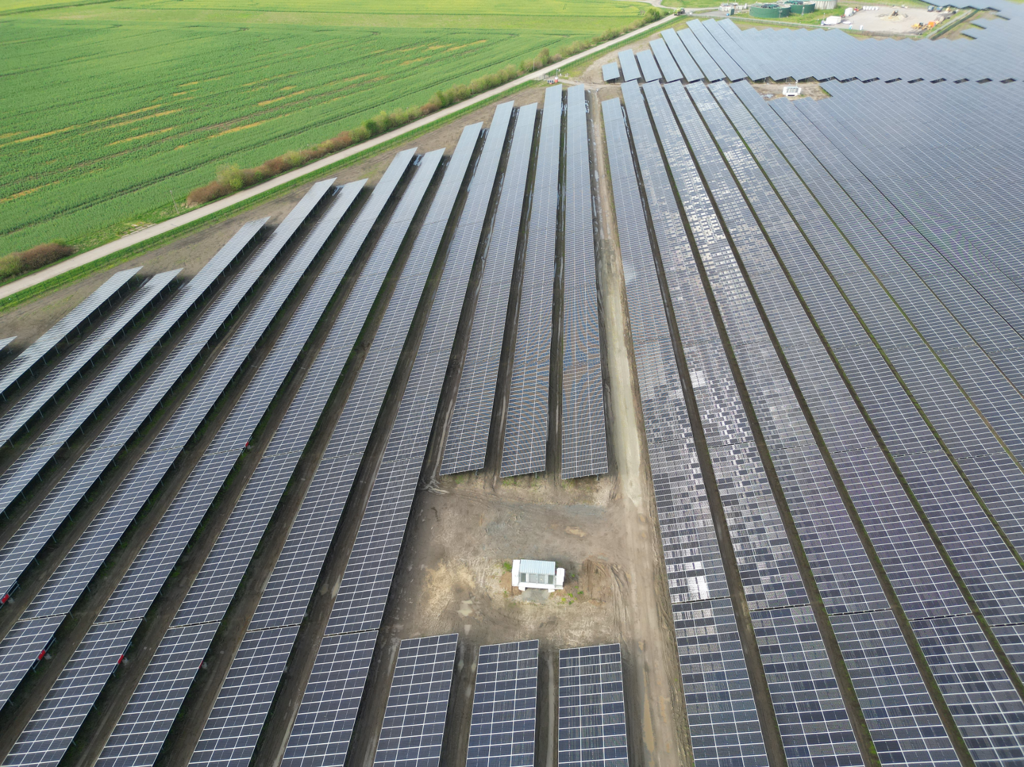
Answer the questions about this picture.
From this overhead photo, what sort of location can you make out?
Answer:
solar farm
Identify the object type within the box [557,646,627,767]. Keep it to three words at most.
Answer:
solar array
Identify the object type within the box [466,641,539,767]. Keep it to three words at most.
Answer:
solar array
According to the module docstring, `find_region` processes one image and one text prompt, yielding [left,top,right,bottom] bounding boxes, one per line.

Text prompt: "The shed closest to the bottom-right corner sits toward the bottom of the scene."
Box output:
[512,557,564,601]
